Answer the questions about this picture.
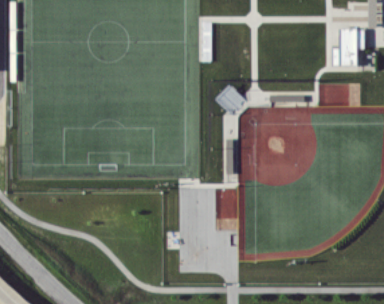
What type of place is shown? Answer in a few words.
sports ground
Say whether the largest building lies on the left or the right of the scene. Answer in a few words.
right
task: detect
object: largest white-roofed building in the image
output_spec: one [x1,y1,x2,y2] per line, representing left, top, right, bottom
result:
[340,28,359,66]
